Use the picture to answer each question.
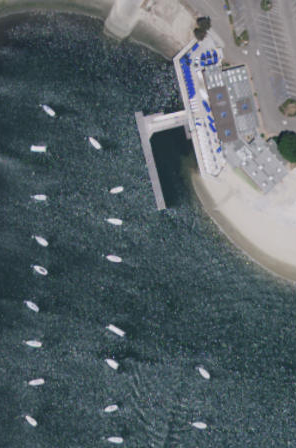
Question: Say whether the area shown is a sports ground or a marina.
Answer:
marina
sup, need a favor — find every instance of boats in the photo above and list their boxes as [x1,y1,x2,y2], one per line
[28,146,46,152]
[104,437,124,443]
[106,324,124,336]
[32,194,46,200]
[28,378,45,384]
[102,358,119,370]
[22,340,41,346]
[190,422,206,428]
[31,264,48,276]
[40,104,55,117]
[104,256,122,262]
[24,414,38,427]
[104,218,122,224]
[196,366,210,380]
[104,404,118,411]
[110,185,123,192]
[86,136,101,150]
[32,235,47,246]
[23,300,39,312]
